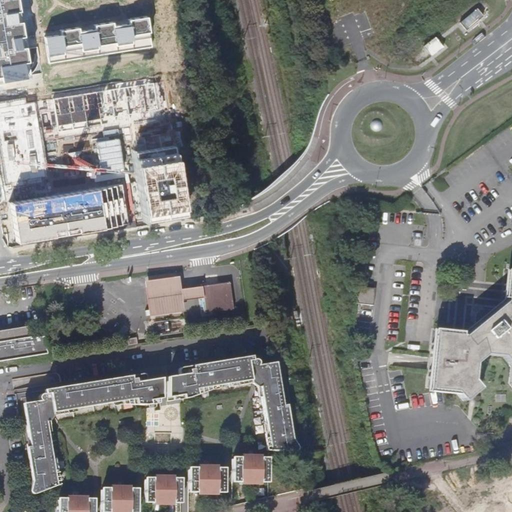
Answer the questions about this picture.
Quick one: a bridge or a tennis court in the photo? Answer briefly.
bridge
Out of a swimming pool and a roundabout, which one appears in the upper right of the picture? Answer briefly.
roundabout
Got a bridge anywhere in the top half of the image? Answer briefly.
Yes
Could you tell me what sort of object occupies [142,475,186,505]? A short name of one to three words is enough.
house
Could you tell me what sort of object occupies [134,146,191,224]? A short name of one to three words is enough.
building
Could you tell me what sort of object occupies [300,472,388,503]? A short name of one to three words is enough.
bridge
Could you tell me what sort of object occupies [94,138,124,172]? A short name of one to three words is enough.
shed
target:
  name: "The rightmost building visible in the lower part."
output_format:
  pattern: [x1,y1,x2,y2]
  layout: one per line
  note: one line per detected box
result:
[422,262,512,402]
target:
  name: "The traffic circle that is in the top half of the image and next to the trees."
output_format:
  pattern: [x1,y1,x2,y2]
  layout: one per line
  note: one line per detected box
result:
[330,80,436,186]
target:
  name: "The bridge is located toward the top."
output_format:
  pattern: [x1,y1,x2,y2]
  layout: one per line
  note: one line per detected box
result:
[246,94,331,244]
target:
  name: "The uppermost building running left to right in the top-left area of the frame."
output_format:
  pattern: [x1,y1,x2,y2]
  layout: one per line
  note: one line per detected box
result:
[42,18,154,63]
